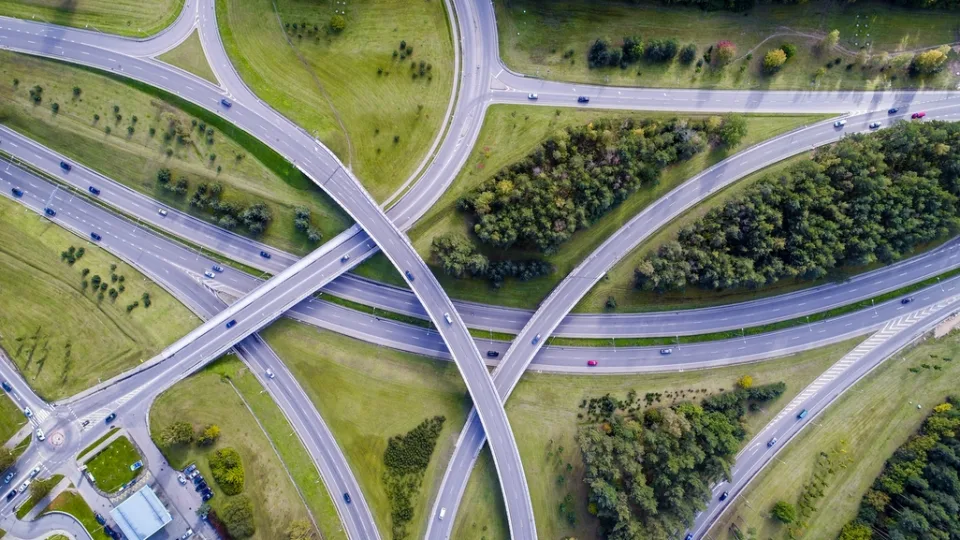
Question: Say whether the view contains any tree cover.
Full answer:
Yes, some tree cover is visible.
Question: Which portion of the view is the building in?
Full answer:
The building is located in the bottom left region of the scene.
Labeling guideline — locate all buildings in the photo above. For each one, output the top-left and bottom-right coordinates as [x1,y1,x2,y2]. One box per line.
[110,483,174,540]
